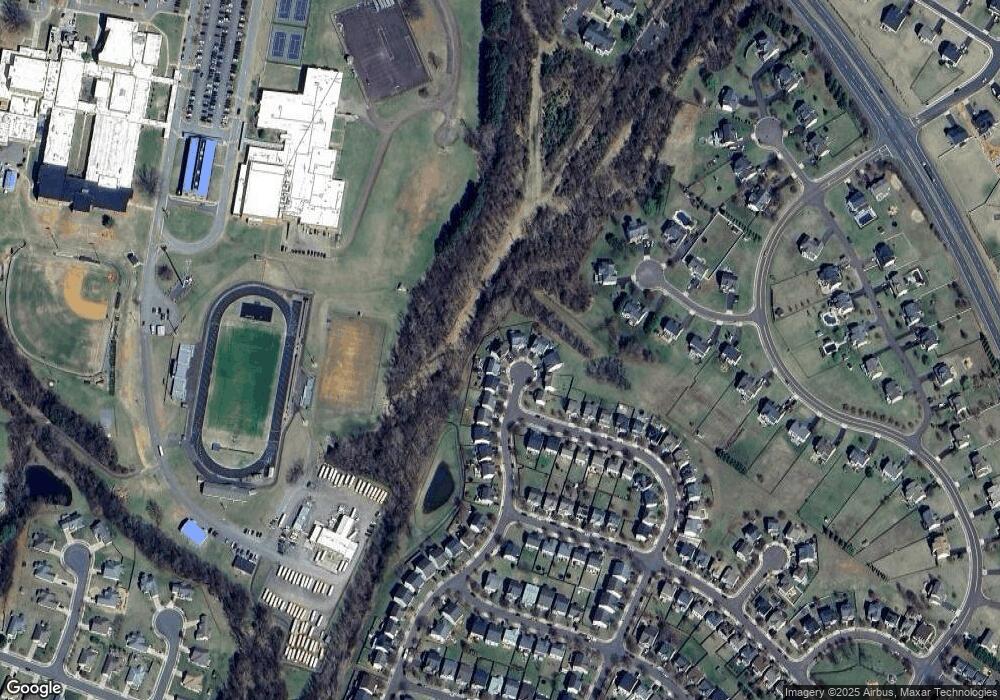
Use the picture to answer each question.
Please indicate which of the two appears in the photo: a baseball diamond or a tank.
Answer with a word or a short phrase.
baseball diamond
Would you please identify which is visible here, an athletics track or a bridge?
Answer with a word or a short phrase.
athletics track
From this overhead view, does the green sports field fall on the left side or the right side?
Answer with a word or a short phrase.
left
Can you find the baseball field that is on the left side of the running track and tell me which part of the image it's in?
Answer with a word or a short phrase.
left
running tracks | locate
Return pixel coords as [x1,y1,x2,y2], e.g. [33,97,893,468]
[192,281,295,478]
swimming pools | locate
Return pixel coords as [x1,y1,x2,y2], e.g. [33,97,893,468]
[674,209,695,227]
[820,342,839,354]
[821,310,839,325]
[856,210,876,225]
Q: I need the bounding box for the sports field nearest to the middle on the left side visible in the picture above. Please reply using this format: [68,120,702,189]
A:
[317,315,388,416]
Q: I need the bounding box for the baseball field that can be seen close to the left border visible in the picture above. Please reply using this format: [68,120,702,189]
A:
[8,244,116,375]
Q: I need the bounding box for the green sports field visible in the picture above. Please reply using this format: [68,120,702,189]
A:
[207,326,282,434]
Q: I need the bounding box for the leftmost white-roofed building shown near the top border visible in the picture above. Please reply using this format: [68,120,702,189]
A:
[0,18,182,215]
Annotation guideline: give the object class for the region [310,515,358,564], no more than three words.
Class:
building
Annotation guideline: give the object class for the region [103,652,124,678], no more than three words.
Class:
house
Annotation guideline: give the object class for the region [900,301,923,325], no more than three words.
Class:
house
